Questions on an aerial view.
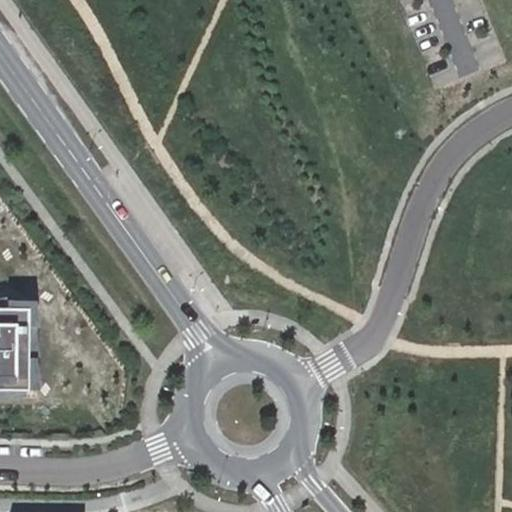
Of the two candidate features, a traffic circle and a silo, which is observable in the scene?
traffic circle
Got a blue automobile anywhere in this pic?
No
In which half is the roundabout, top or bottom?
bottom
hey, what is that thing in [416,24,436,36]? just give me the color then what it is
white vehicle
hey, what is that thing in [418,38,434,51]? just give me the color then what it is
white vehicle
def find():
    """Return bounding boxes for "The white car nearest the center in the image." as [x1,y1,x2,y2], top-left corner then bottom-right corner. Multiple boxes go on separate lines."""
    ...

[156,266,172,284]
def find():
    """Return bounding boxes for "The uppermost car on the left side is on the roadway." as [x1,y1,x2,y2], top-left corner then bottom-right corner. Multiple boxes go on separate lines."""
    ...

[112,201,128,220]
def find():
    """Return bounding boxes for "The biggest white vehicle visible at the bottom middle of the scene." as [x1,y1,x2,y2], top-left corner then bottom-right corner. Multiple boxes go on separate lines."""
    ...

[252,482,274,505]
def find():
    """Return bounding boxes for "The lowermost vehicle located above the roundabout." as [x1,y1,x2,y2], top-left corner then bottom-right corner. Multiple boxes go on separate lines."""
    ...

[180,302,198,322]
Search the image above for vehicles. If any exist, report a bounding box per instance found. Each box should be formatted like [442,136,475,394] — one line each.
[426,61,446,74]
[20,447,44,458]
[156,266,172,284]
[406,14,426,26]
[418,38,434,51]
[112,201,128,220]
[252,482,274,505]
[416,24,436,36]
[0,448,10,456]
[0,470,18,480]
[180,302,198,322]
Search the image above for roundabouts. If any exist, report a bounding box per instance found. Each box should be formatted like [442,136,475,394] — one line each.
[168,338,324,494]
